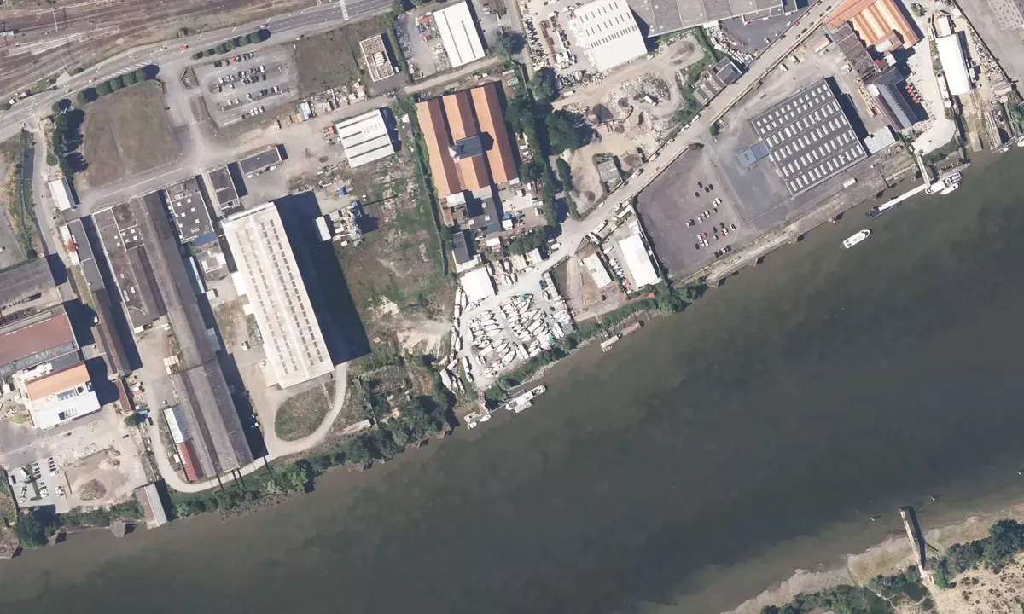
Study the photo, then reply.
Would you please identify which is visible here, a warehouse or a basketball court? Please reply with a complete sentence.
Of the two, only a warehouse appears.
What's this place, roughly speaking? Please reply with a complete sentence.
The picture captures a port.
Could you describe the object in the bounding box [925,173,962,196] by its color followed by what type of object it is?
white boat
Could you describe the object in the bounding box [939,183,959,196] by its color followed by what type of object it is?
white boat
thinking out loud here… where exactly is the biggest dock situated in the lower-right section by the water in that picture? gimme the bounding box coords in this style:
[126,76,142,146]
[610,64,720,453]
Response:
[900,509,926,571]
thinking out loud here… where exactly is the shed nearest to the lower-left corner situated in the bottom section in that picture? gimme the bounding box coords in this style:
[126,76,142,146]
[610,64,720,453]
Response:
[135,483,167,529]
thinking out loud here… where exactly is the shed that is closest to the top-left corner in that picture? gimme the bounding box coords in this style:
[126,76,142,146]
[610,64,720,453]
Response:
[49,178,77,211]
